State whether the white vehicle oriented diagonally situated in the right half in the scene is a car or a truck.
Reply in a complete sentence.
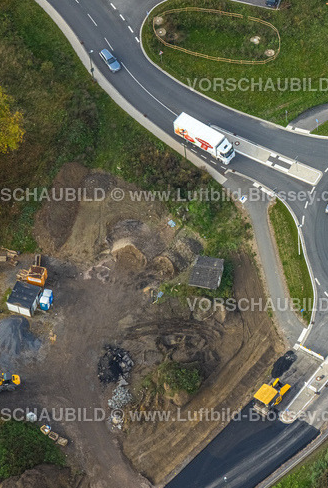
The white vehicle oriented diagonally situated in the right half appears to be a truck.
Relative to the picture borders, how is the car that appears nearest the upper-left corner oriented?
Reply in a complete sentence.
I'd say the car that appears nearest the upper-left corner is aligned diagonally in the picture.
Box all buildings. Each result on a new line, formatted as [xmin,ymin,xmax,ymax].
[188,256,224,292]
[7,280,44,322]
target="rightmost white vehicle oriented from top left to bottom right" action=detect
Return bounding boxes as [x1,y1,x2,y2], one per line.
[175,112,238,166]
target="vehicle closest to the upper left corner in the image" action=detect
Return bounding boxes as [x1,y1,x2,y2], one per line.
[99,48,120,72]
